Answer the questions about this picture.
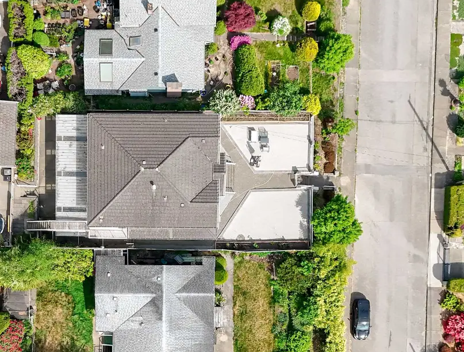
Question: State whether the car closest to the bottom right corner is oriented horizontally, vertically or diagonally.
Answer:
vertically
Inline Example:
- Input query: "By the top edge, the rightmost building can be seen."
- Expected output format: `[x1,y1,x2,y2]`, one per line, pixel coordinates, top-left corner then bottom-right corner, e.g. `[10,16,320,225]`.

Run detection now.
[82,0,217,106]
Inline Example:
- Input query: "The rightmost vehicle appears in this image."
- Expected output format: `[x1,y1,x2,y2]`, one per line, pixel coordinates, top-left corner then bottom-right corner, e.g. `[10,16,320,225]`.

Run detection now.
[350,297,372,341]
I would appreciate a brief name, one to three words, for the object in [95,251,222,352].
house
